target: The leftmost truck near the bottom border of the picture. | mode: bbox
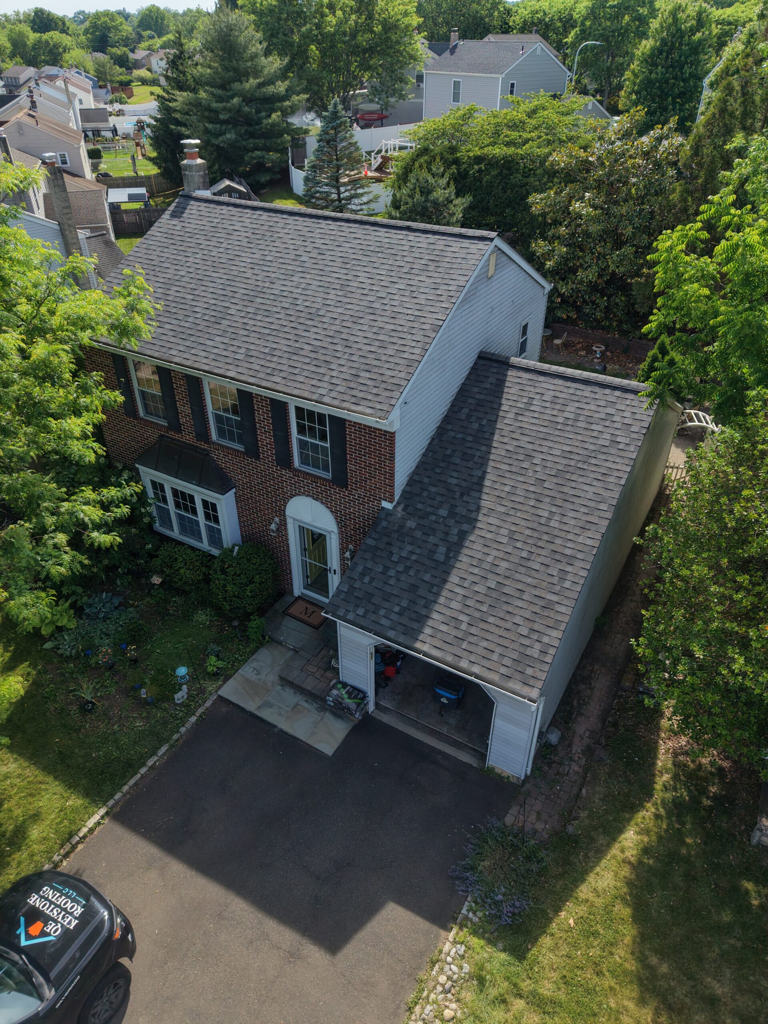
[0,867,143,1024]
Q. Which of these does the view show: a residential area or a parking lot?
residential area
